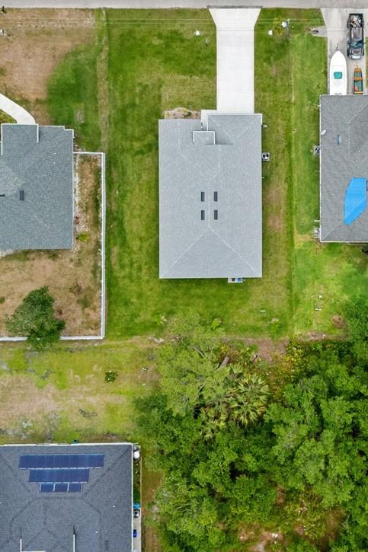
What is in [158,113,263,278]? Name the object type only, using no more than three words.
house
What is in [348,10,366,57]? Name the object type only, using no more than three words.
vehicle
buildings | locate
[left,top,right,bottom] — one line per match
[0,441,133,552]
[0,123,75,250]
[319,94,368,242]
[158,113,263,278]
